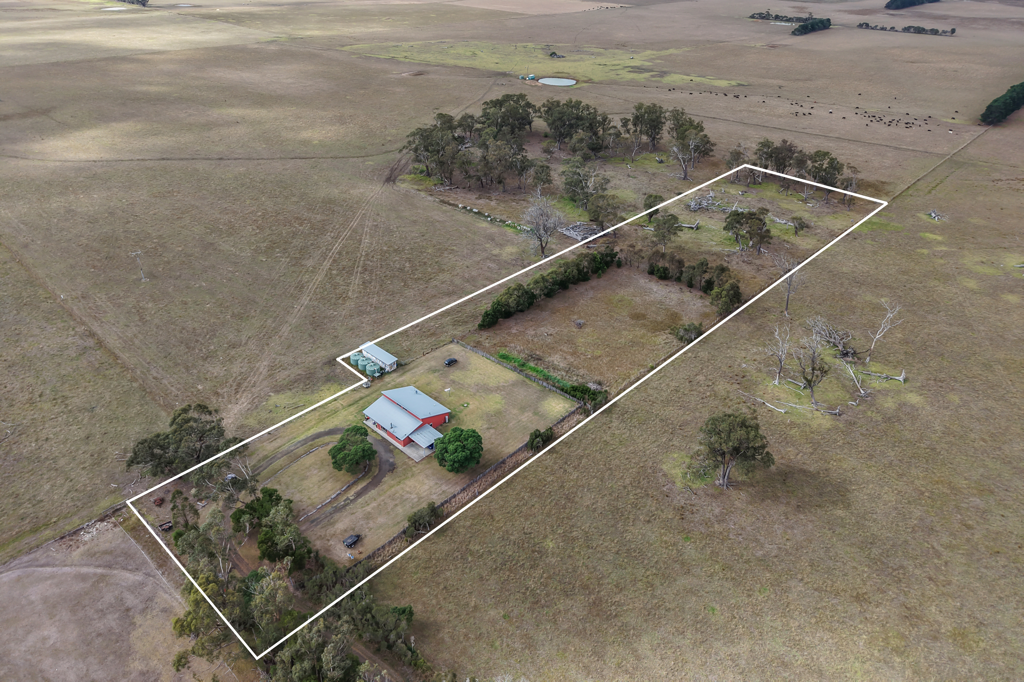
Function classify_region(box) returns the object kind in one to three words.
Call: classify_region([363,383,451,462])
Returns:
house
